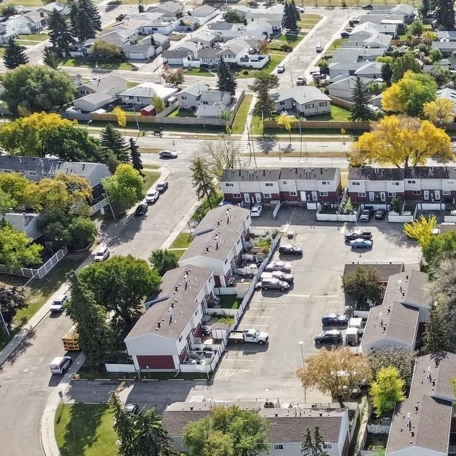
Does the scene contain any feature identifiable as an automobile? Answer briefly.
Yes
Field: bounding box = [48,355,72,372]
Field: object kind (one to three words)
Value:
car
